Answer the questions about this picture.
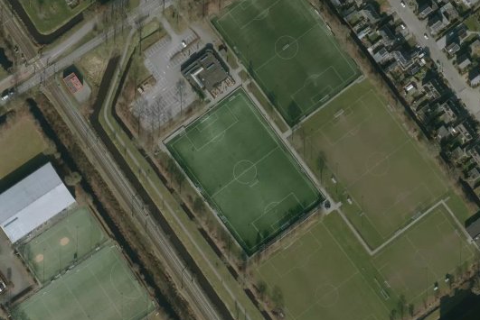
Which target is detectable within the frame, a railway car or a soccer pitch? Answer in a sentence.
Of the two, only a soccer pitch appears.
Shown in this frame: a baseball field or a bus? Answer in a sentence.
The one in the frame is a baseball field.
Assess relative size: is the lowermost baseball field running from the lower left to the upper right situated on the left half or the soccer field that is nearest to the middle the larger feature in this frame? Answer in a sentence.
The soccer field takes up more space than the baseball field.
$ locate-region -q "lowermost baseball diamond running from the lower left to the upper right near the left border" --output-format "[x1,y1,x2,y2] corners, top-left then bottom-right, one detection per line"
[21,206,111,283]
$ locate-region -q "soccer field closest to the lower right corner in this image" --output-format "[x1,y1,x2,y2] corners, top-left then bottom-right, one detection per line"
[375,213,472,303]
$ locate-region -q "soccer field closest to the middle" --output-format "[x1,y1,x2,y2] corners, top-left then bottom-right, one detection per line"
[165,89,323,256]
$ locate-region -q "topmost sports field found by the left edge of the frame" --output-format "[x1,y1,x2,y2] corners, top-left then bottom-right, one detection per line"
[0,106,49,177]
